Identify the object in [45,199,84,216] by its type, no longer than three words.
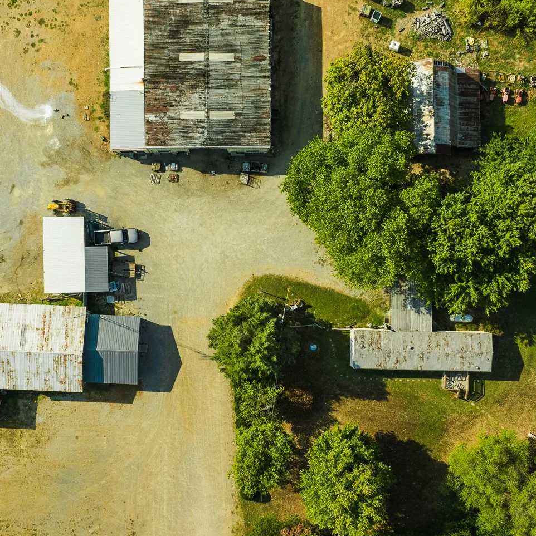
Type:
work vehicle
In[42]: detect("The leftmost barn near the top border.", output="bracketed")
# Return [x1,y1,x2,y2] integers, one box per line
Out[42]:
[106,0,272,157]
